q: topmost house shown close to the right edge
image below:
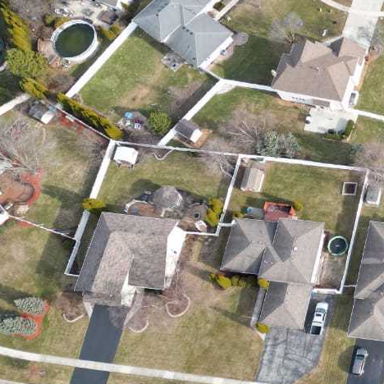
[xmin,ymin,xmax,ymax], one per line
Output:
[273,42,369,107]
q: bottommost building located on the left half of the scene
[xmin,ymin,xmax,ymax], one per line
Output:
[75,213,186,302]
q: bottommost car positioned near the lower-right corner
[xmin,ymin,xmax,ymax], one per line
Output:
[350,348,366,378]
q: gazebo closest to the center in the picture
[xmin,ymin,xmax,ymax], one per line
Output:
[156,186,187,214]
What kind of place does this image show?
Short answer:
residential area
